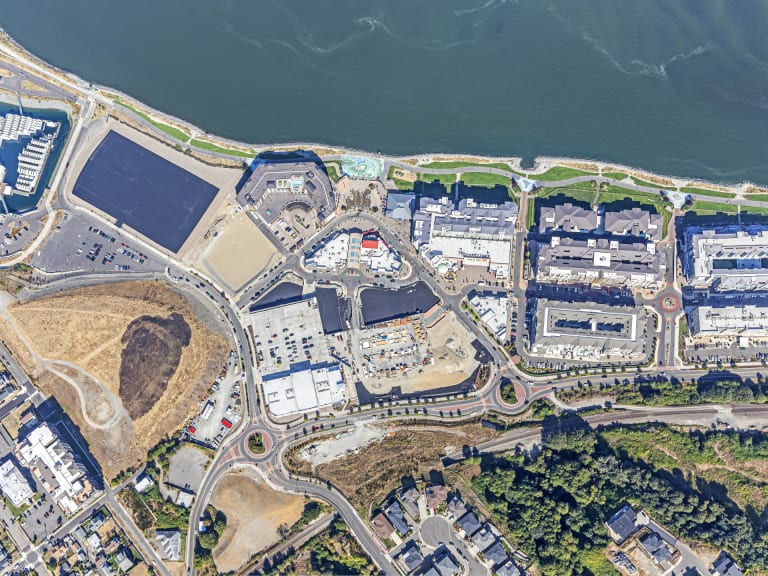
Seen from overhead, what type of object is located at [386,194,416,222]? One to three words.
building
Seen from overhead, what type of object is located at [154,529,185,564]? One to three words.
building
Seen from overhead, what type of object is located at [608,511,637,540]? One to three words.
house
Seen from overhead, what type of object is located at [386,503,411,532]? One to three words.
house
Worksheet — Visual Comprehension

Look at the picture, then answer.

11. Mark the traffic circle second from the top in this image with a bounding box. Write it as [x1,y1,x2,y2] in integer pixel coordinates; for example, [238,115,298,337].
[489,371,532,415]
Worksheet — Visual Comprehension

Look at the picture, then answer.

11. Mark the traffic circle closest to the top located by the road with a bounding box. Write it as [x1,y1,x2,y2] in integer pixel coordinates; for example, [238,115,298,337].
[654,284,687,317]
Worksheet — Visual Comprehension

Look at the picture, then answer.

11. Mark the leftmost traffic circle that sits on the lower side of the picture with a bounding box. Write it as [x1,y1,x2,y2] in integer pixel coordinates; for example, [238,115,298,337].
[236,422,278,464]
